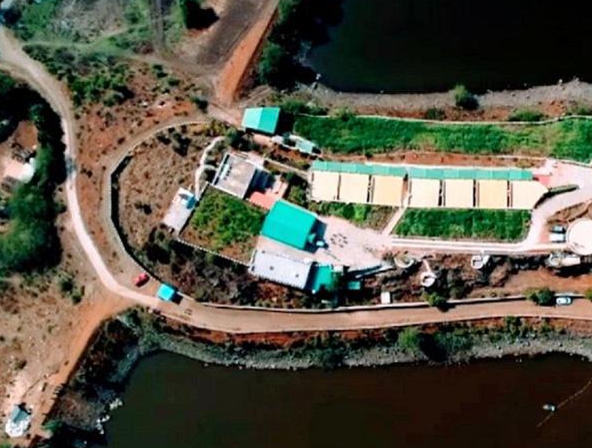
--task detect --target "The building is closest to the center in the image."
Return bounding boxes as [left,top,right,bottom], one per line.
[261,199,318,250]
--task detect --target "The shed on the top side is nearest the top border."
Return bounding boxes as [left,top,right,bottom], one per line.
[242,107,283,134]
